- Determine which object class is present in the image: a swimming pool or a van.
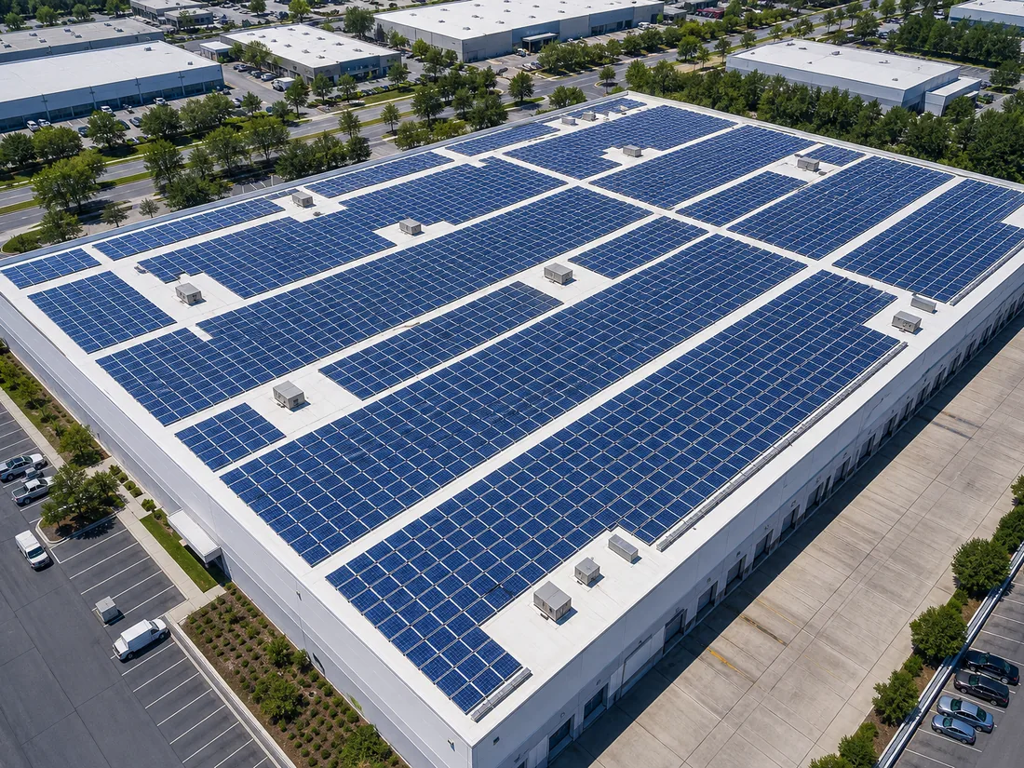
van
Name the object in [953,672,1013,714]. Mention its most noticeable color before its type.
black car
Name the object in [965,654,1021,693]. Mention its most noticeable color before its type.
black car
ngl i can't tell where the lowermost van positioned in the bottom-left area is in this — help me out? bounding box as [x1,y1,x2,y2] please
[113,615,175,659]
